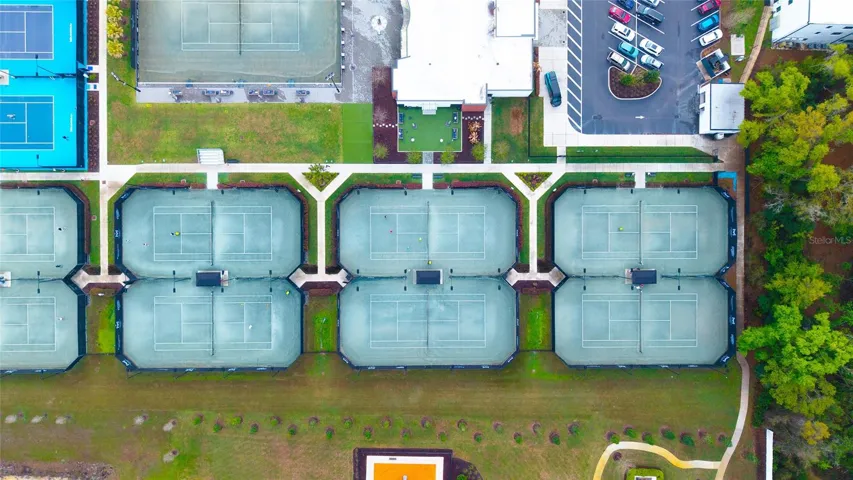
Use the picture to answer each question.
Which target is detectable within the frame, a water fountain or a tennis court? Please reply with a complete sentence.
It is a tennis court that can be seen here.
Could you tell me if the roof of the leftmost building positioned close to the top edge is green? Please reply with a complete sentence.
No, the roof of the leftmost building positioned close to the top edge is actually white.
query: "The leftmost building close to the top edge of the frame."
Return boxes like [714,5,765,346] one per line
[393,0,539,118]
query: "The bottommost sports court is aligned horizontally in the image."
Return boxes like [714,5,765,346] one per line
[367,456,444,480]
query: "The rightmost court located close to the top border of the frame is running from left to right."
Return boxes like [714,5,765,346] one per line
[138,0,341,82]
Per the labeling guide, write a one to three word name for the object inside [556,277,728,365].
tennis court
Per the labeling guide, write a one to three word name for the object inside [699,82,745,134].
shed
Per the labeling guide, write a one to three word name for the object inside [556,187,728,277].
tennis court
